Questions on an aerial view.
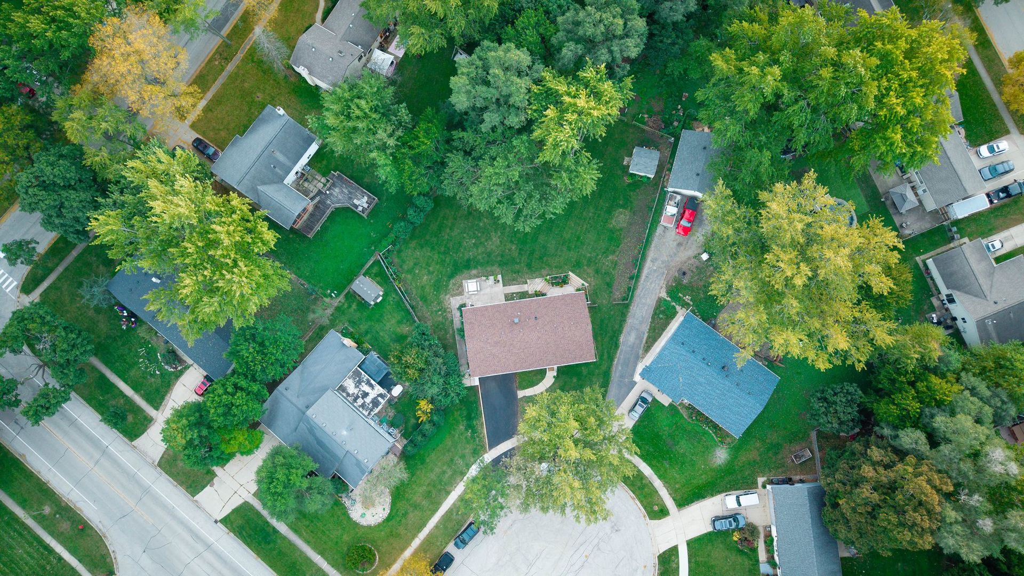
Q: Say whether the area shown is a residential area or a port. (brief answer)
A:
residential area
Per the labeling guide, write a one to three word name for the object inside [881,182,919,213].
gazebo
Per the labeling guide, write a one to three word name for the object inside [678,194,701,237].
truck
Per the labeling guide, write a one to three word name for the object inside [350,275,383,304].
shed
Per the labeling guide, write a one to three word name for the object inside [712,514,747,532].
car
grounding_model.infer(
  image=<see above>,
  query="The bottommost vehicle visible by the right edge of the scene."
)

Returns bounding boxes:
[984,236,1011,254]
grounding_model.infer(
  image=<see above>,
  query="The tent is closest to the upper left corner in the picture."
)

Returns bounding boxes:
[367,49,397,73]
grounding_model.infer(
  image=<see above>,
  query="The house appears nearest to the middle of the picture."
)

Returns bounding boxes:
[462,291,596,378]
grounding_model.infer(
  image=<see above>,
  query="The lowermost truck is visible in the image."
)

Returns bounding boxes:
[428,547,458,576]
